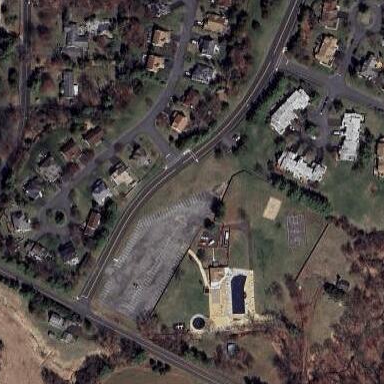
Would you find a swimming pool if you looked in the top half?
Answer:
No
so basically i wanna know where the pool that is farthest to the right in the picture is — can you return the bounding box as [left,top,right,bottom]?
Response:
[210,268,267,328]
